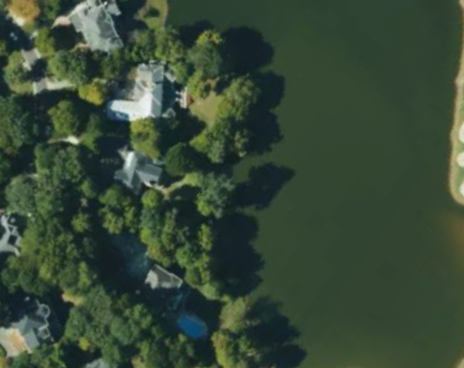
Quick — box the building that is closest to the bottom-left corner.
[11,306,52,346]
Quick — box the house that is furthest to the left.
[0,210,21,253]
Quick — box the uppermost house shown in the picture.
[67,0,125,55]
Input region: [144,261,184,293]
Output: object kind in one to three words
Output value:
house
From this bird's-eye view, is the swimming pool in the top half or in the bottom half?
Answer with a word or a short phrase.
bottom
